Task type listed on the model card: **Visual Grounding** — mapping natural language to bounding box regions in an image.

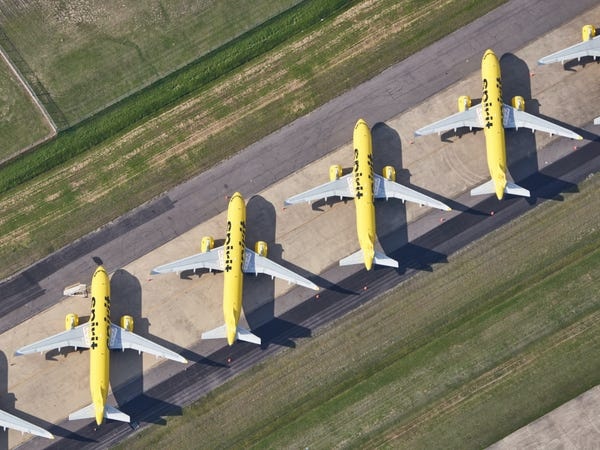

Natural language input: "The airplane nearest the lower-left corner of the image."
[0,414,53,441]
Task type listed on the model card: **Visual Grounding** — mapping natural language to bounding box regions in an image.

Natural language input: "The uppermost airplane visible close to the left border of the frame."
[15,267,188,425]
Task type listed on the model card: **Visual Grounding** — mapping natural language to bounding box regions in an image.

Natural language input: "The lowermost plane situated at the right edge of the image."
[414,50,582,202]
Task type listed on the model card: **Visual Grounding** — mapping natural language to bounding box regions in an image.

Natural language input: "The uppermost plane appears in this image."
[537,28,600,67]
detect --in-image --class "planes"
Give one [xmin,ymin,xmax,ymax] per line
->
[149,192,320,347]
[537,28,600,67]
[282,119,452,273]
[414,50,582,202]
[15,267,188,425]
[0,414,53,441]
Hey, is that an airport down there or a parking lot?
airport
